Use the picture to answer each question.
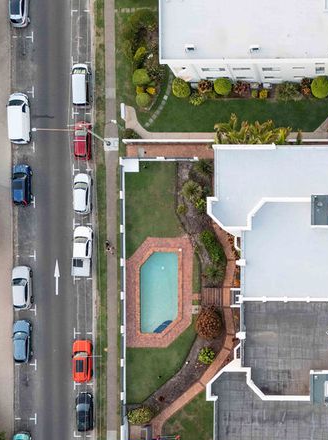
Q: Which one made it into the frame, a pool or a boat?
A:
pool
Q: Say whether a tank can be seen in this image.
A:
No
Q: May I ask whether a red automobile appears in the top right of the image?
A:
No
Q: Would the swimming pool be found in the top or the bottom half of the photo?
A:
bottom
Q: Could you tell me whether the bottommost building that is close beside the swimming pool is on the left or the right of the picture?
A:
right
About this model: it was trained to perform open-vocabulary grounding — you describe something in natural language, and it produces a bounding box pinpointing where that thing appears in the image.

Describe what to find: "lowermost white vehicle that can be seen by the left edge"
[11,267,34,309]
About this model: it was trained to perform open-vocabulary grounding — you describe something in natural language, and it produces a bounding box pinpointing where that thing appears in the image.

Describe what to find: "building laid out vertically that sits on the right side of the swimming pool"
[205,145,328,440]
